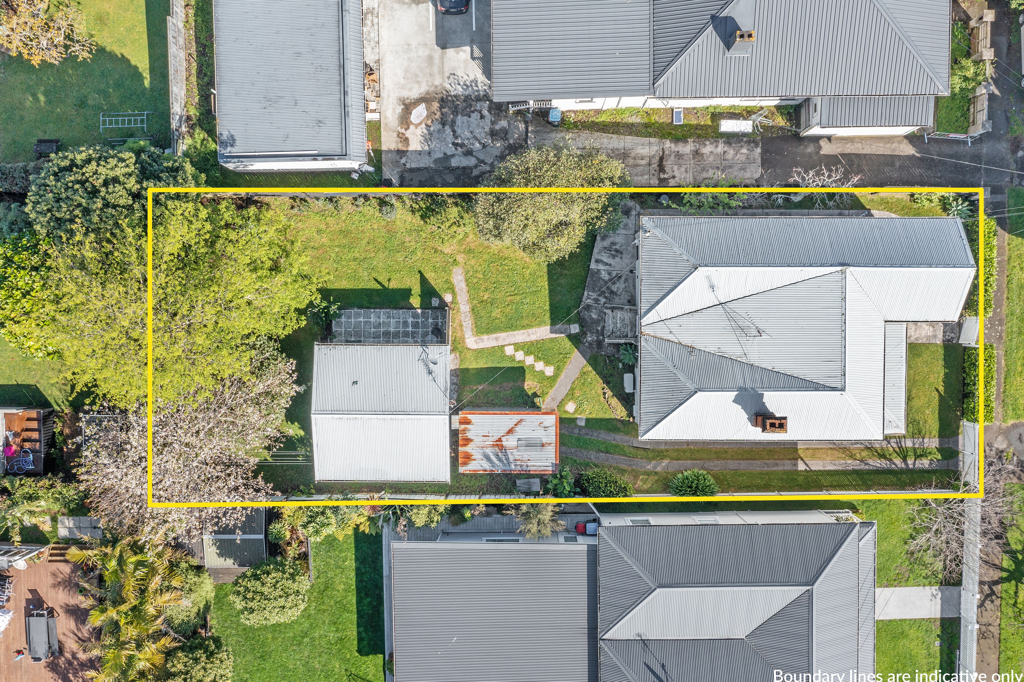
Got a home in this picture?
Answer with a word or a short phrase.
Yes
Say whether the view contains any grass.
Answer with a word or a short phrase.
Yes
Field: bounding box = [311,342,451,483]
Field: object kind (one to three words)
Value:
shed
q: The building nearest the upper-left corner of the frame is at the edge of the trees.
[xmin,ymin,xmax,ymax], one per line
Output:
[210,0,373,172]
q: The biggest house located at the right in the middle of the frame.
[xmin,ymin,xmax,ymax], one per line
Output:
[604,215,977,443]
